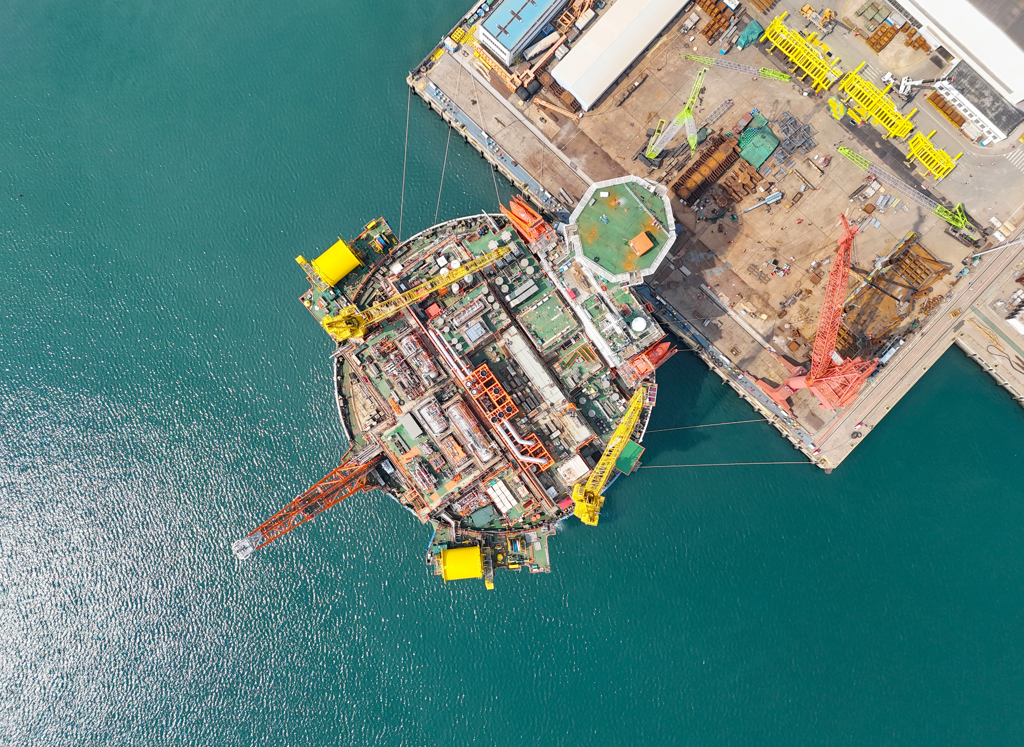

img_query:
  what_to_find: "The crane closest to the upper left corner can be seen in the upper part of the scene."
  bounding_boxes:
[321,245,516,342]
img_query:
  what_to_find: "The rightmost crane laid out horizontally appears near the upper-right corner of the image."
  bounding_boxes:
[878,72,957,109]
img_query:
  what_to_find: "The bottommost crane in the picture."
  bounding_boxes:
[571,384,648,527]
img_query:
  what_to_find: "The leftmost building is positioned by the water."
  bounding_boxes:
[478,0,572,67]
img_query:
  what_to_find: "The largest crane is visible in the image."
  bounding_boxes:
[743,209,881,422]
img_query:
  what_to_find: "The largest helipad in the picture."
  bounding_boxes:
[563,174,677,285]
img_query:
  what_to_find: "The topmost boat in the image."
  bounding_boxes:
[509,200,539,225]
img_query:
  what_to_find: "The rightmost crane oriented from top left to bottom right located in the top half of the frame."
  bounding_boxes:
[837,145,1001,257]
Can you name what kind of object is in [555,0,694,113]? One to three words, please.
shed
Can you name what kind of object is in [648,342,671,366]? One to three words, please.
boat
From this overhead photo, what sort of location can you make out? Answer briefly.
port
